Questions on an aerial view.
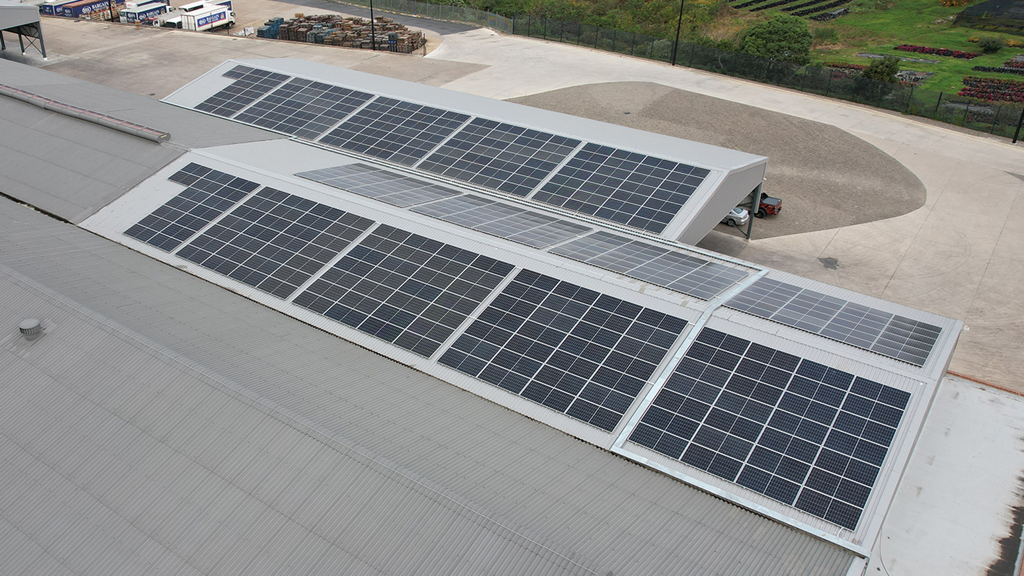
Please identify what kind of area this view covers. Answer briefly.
industrial area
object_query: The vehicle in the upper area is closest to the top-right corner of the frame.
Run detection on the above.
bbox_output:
[756,186,785,215]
